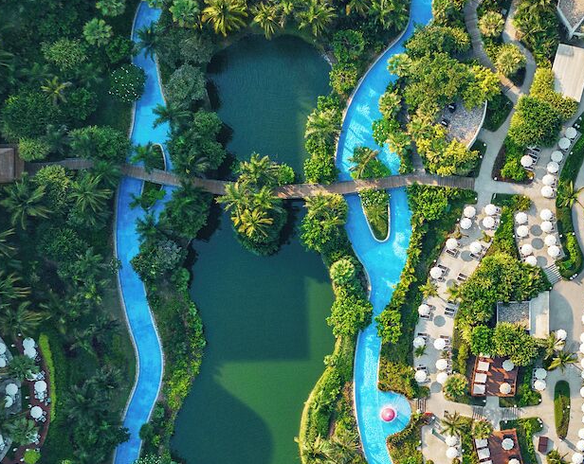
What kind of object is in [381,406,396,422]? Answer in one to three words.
fountain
